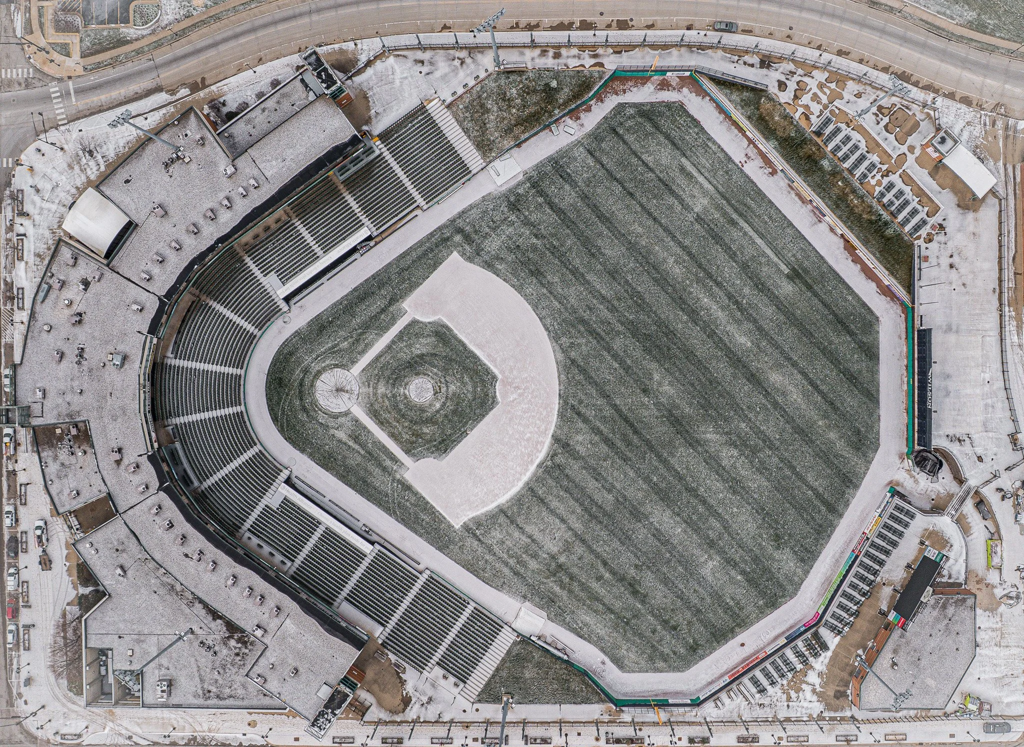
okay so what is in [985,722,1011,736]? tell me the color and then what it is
gray car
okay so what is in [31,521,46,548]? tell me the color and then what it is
white vehicle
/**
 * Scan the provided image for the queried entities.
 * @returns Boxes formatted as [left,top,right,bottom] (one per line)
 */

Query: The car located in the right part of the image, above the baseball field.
[714,18,738,32]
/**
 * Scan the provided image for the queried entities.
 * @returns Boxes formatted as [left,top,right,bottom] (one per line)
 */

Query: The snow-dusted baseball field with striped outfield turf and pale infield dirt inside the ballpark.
[245,76,907,699]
